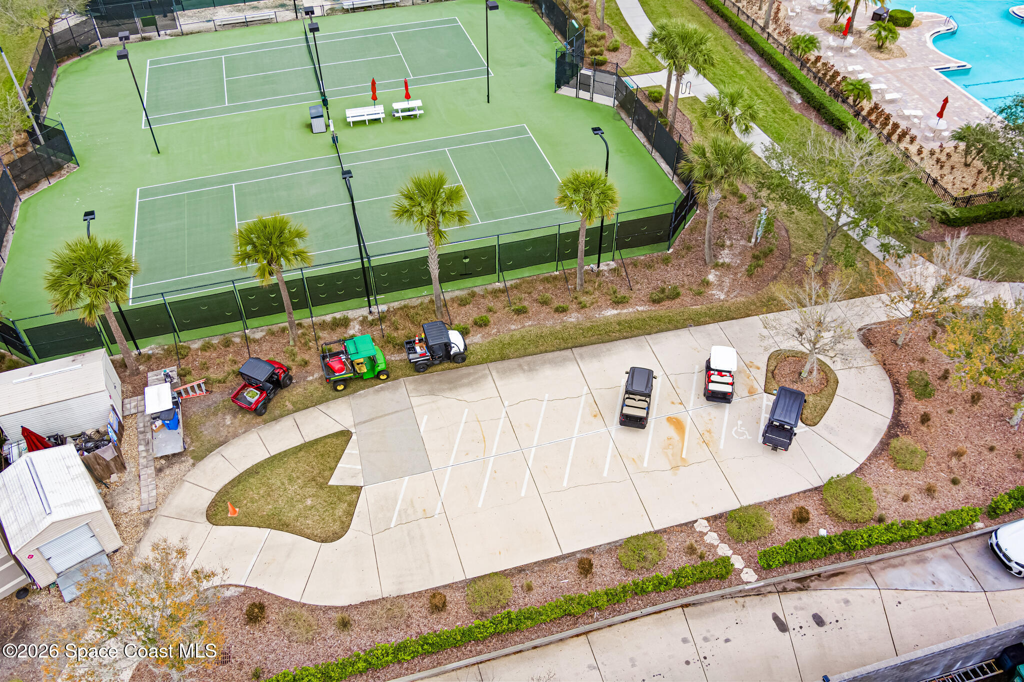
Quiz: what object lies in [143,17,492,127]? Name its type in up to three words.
tennis court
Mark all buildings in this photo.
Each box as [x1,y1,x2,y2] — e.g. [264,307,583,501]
[0,443,124,601]
[0,347,123,444]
